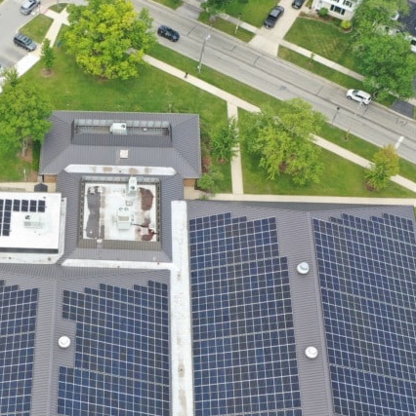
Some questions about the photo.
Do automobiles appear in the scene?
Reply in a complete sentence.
Yes, I can see an automobile in this picture.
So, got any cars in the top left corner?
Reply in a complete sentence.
Yes, you'll find a car in the top left corner.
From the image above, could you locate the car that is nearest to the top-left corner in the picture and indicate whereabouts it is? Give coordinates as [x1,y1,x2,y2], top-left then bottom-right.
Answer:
[18,0,41,15]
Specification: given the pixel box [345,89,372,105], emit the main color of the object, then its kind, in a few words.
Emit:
white car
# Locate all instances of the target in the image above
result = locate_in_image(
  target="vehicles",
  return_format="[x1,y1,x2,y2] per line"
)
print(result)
[154,23,181,42]
[265,3,284,30]
[345,89,372,105]
[18,0,41,15]
[291,0,306,11]
[12,30,37,51]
